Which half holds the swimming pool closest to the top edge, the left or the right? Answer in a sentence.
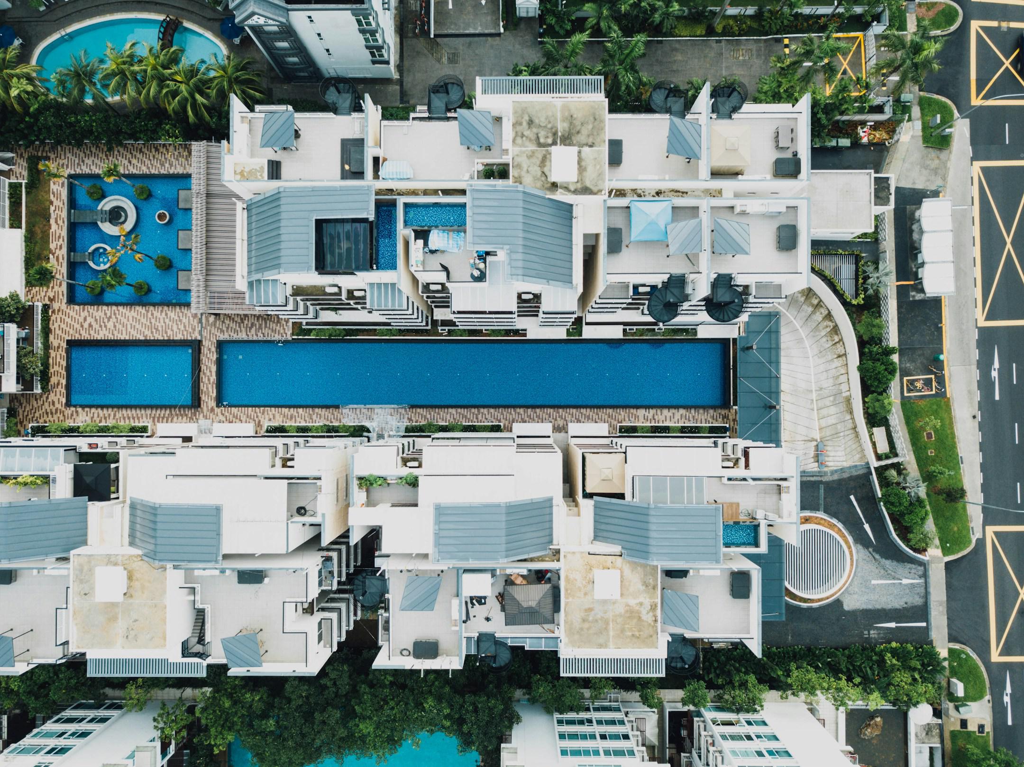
It is on the left.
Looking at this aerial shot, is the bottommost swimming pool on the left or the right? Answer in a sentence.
The bottommost swimming pool appears in the left half of the scene.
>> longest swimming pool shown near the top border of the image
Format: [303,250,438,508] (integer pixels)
[31,13,229,98]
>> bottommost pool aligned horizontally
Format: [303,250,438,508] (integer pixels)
[223,729,485,767]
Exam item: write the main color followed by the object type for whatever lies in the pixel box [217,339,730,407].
blue swimming pool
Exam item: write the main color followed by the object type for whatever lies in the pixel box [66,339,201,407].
blue swimming pool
